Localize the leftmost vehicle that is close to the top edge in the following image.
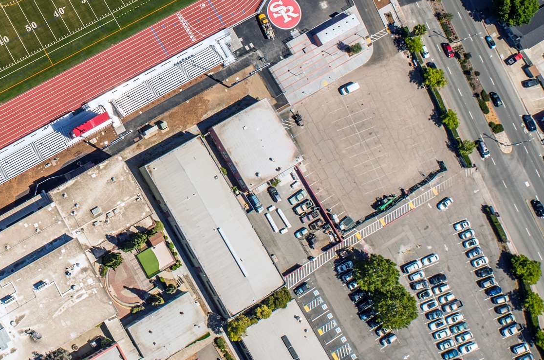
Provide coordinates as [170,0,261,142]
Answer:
[258,13,275,40]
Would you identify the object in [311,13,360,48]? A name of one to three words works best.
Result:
building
